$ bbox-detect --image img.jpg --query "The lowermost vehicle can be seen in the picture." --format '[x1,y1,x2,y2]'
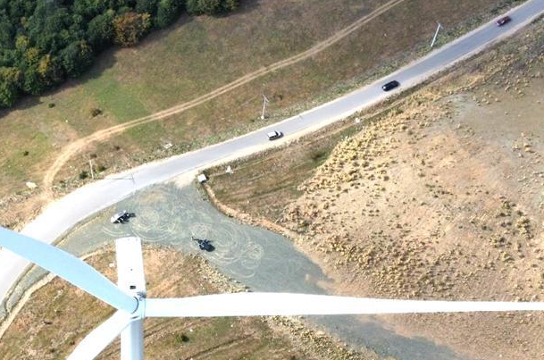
[192,236,211,252]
